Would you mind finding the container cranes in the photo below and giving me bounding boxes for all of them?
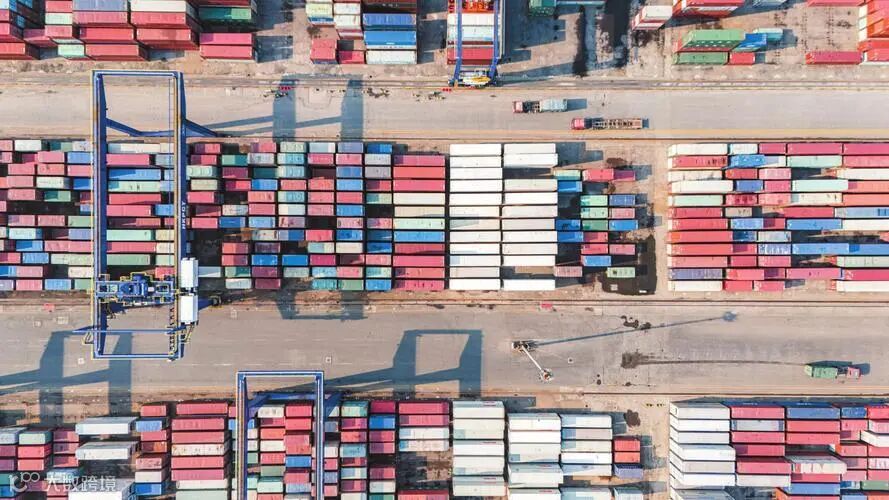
[447,0,503,88]
[232,372,343,500]
[74,69,223,359]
